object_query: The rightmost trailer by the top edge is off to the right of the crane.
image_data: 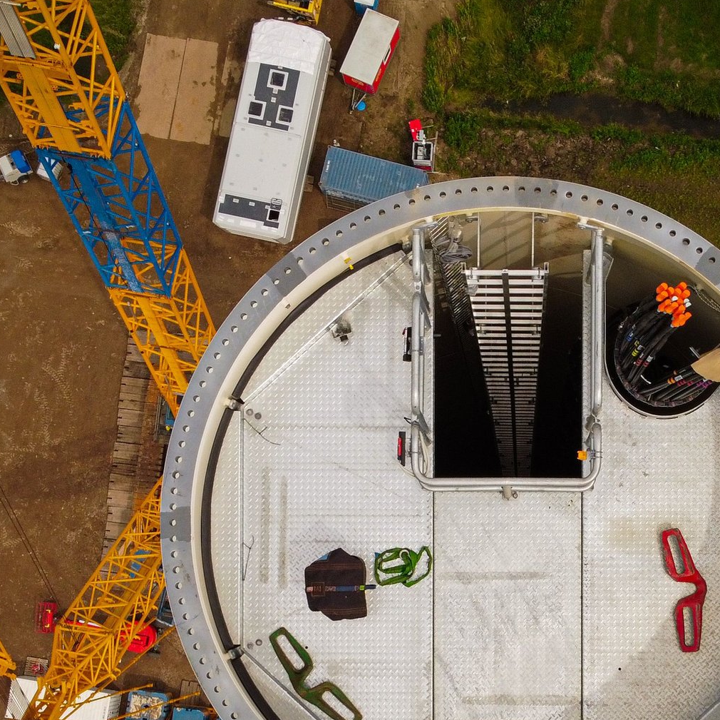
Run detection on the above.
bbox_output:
[339,9,400,116]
